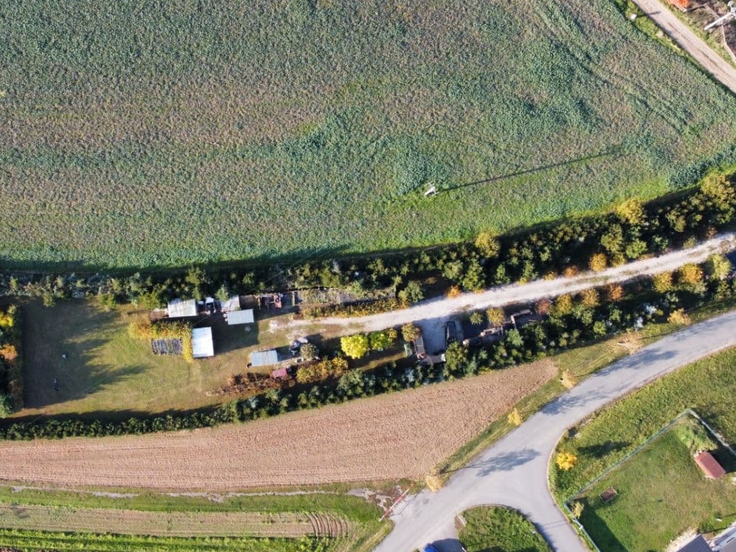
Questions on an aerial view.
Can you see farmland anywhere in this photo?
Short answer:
Yes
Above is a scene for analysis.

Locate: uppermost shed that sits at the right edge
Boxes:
[690,451,719,481]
